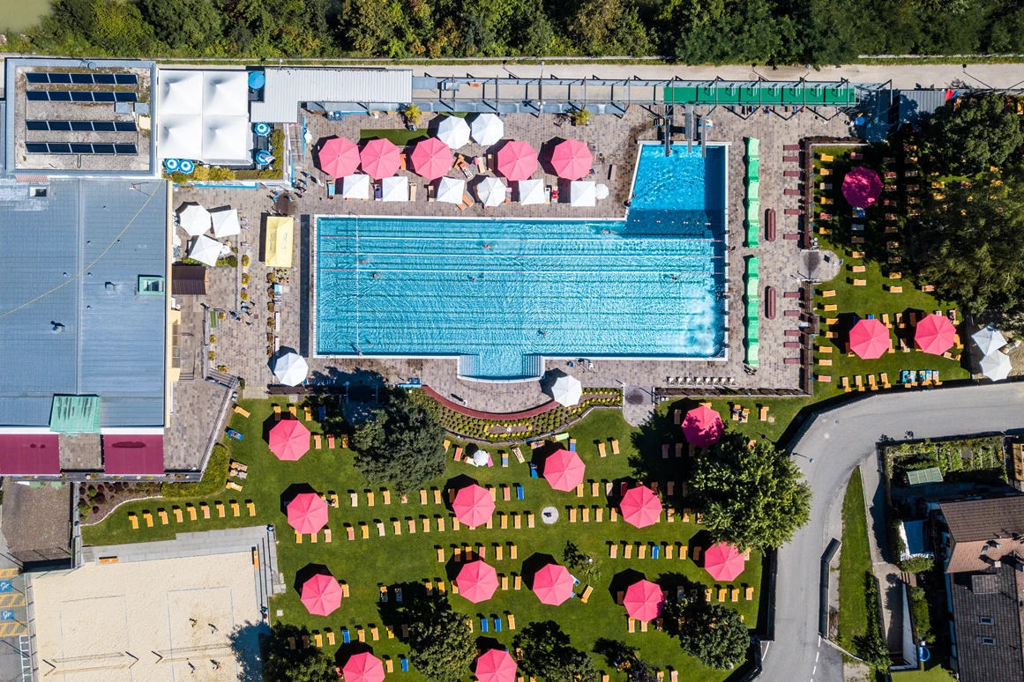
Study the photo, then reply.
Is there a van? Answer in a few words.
No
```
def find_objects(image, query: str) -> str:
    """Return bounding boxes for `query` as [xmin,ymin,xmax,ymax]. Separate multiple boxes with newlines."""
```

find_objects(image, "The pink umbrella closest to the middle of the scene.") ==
[543,449,585,491]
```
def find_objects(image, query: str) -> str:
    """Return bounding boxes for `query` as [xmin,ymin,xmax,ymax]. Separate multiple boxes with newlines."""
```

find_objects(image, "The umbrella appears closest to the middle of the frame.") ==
[550,375,582,406]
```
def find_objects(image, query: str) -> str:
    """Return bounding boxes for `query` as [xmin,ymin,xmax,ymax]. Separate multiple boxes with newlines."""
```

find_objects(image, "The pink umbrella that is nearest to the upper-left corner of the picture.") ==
[319,137,361,179]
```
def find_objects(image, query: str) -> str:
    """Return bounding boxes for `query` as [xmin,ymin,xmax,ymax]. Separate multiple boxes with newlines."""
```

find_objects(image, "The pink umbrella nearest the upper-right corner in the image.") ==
[839,167,881,209]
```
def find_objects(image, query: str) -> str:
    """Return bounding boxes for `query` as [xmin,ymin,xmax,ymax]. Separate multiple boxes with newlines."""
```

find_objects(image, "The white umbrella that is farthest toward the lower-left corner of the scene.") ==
[275,350,310,385]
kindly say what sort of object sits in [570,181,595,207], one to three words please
umbrella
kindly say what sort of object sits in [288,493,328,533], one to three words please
umbrella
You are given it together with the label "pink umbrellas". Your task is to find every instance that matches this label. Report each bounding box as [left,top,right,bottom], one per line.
[702,539,743,581]
[411,138,453,180]
[498,140,537,180]
[847,319,887,359]
[288,493,328,533]
[456,559,498,601]
[302,574,343,616]
[543,449,585,491]
[359,138,401,180]
[271,420,310,459]
[453,484,495,526]
[839,167,881,209]
[532,563,574,605]
[551,138,593,180]
[621,486,663,528]
[319,137,361,179]
[681,404,723,446]
[344,652,385,682]
[623,579,666,621]
[477,651,516,682]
